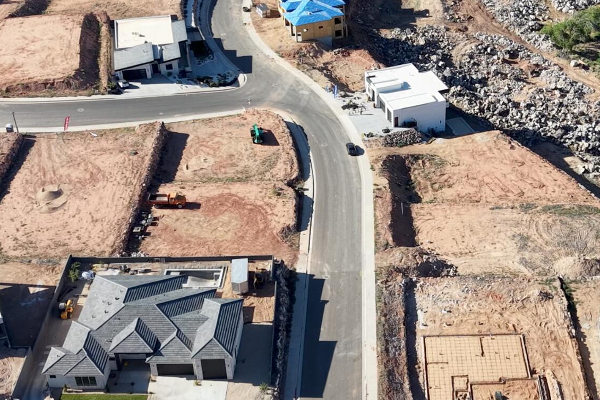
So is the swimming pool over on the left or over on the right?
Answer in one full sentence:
The swimming pool appears in the left half of the scene.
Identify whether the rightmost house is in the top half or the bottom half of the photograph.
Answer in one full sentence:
You can find the rightmost house in the top half.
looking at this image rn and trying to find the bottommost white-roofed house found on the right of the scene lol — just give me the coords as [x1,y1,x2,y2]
[365,63,448,127]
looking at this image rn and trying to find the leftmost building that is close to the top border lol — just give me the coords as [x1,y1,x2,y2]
[114,16,188,81]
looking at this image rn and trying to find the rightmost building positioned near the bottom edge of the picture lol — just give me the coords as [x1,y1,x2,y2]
[41,274,245,388]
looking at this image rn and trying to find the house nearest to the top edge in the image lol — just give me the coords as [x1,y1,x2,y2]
[277,0,346,41]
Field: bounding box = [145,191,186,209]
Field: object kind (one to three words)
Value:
vehicle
